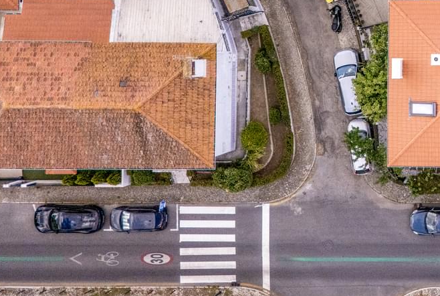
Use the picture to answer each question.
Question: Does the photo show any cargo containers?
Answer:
No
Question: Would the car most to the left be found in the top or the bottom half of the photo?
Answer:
bottom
